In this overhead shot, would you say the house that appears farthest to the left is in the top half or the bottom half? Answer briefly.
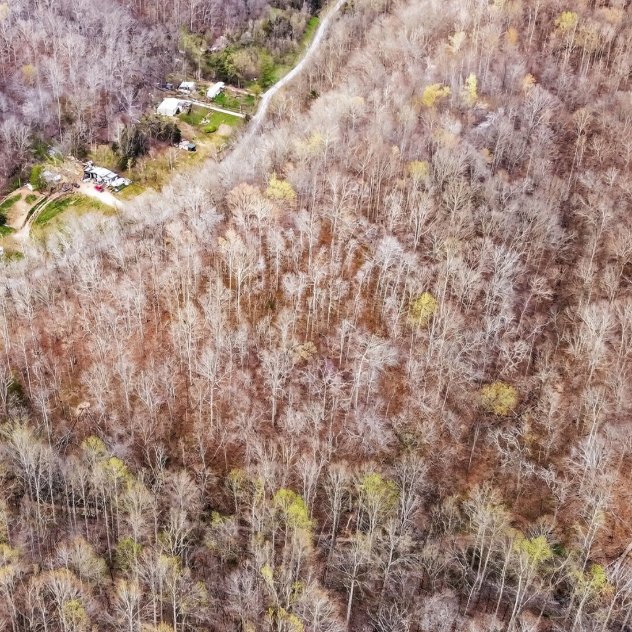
top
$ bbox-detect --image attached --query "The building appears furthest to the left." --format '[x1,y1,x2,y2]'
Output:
[77,167,115,189]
